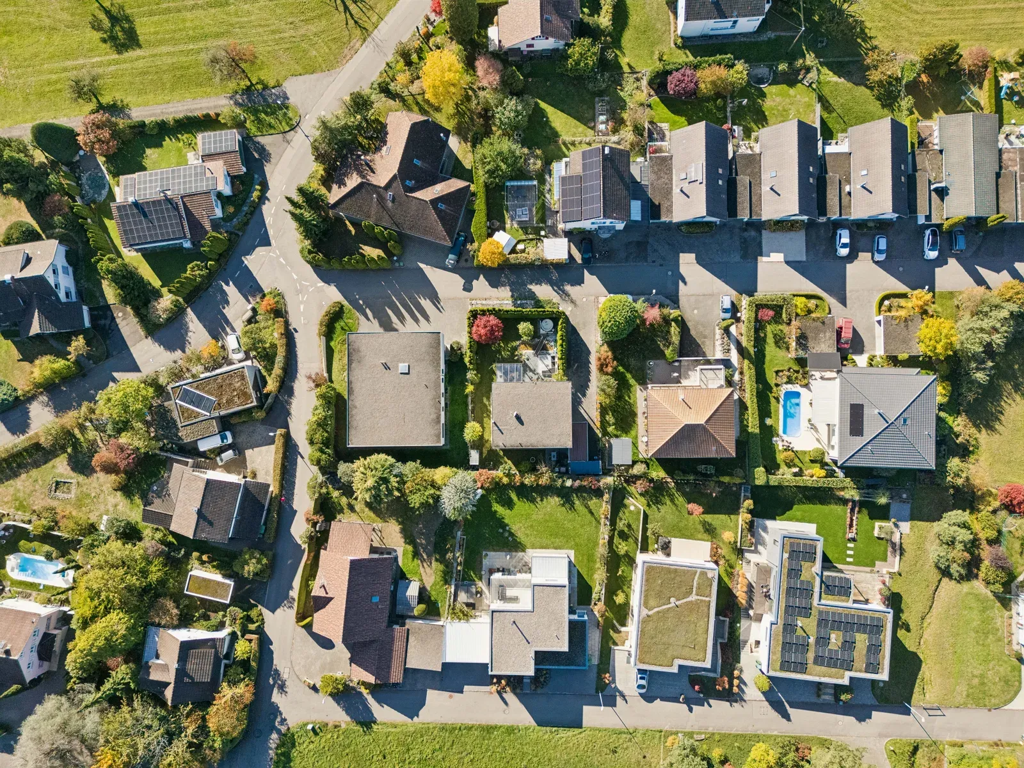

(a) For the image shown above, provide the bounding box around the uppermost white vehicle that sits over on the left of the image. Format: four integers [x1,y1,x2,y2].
[227,333,244,360]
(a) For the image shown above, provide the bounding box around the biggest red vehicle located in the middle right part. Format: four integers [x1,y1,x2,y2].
[835,316,855,349]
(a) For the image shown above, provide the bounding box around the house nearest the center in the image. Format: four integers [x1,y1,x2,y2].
[492,382,572,448]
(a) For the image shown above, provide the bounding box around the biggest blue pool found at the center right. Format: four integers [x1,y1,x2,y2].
[782,390,801,437]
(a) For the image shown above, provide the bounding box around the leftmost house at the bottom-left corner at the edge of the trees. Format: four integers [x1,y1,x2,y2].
[0,594,75,685]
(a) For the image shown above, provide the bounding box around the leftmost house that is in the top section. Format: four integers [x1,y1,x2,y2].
[0,240,90,338]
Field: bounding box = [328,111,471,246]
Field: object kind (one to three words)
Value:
house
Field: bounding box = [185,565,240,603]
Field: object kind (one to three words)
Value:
building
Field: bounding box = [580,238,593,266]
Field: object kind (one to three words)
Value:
vehicle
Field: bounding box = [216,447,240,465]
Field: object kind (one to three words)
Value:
car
